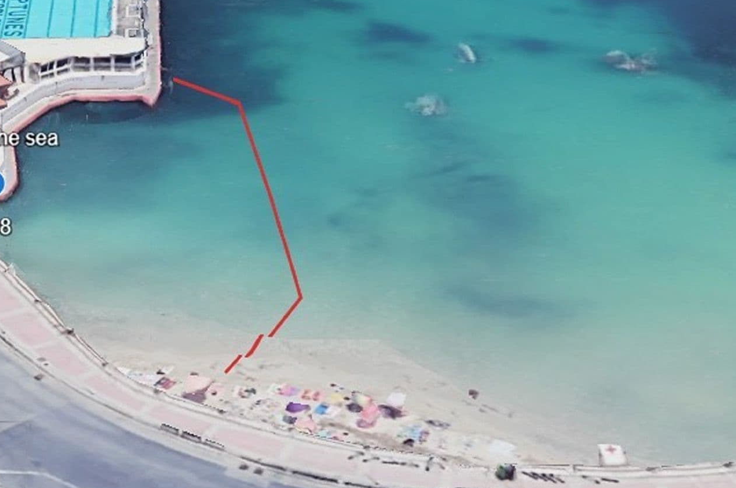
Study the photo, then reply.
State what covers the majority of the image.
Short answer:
water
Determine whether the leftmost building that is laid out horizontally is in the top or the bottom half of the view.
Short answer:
top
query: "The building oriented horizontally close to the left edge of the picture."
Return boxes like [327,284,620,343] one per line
[0,36,148,86]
